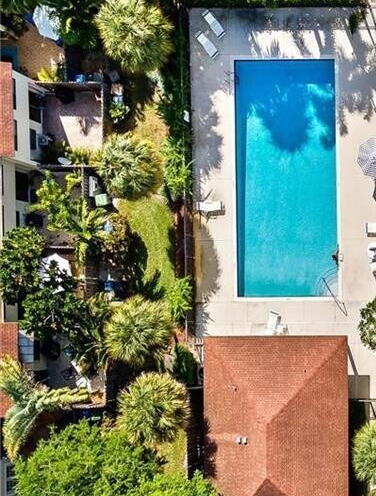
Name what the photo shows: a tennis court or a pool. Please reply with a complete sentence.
It is a pool that can be seen here.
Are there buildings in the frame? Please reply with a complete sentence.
Yes, the photo shows a building.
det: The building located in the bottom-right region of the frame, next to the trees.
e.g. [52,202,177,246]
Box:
[203,335,356,496]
